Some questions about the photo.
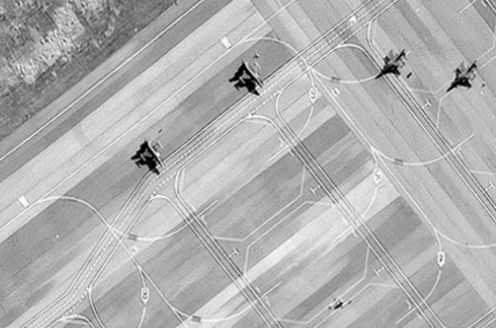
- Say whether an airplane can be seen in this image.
Yes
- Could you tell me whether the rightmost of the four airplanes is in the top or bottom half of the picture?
top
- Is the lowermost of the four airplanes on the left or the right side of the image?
left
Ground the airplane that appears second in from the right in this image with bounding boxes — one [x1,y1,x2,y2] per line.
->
[381,46,413,72]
